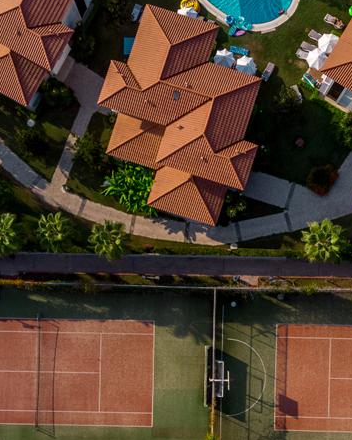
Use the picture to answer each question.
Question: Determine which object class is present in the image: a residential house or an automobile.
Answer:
residential house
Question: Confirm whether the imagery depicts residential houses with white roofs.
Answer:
No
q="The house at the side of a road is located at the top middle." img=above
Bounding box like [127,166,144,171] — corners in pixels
[97,2,263,226]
